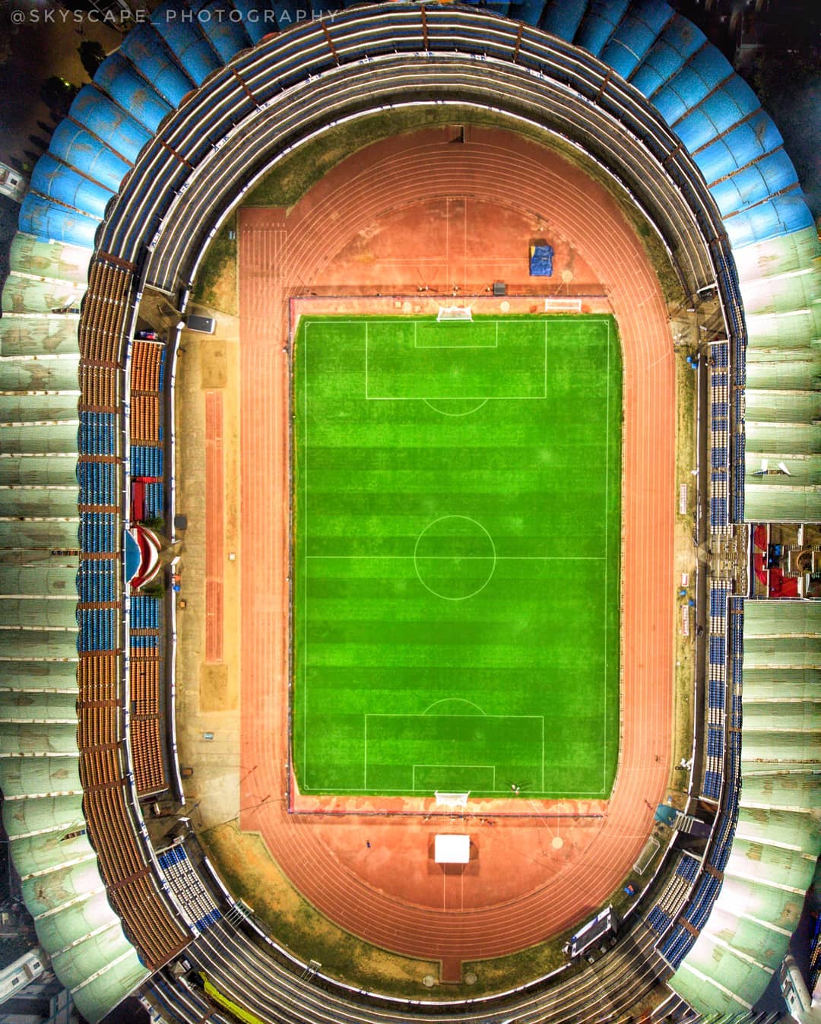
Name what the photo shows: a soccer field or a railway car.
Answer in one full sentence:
I can see a soccer field in this picture.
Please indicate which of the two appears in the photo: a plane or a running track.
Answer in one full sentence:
The one in the frame is a running track.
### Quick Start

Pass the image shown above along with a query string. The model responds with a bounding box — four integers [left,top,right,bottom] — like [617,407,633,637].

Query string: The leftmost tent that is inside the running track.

[436,836,470,867]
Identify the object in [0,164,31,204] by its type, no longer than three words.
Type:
house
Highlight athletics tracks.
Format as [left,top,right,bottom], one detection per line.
[239,126,675,982]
